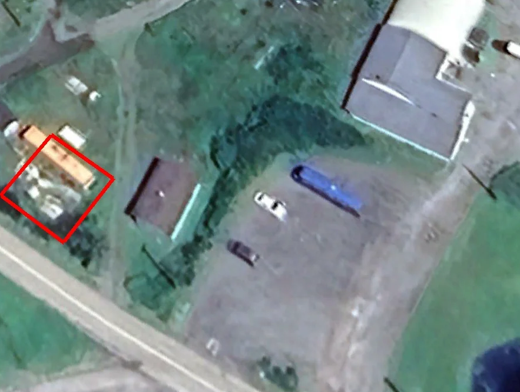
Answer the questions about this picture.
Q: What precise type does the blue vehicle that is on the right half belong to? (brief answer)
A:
bus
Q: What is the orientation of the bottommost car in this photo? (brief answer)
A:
at an angle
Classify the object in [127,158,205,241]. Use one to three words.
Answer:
shed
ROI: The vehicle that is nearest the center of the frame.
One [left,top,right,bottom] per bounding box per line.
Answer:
[252,190,290,223]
